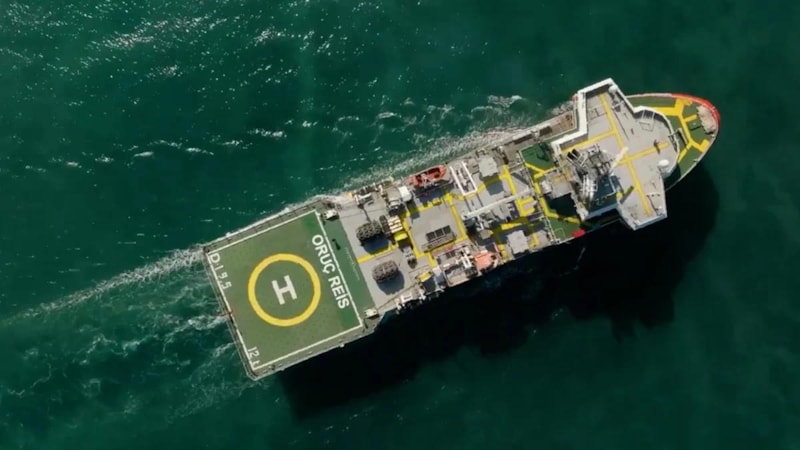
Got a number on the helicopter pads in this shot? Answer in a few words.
1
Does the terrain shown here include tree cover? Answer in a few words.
No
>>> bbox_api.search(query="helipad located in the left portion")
[198,197,375,378]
